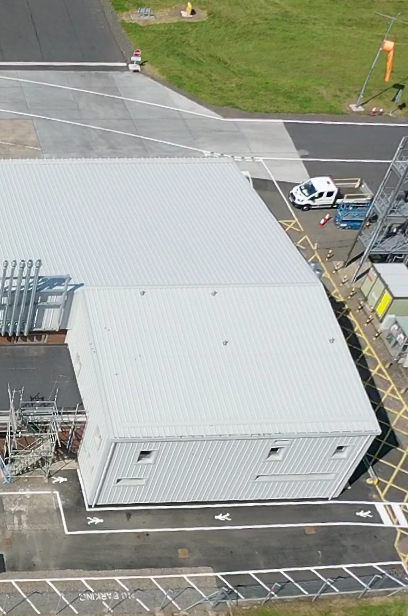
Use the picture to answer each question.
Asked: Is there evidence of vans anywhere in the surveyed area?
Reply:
Yes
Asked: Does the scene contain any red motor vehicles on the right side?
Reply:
No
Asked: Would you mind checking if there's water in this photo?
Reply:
No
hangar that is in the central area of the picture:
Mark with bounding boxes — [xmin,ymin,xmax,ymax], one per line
[0,158,383,509]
